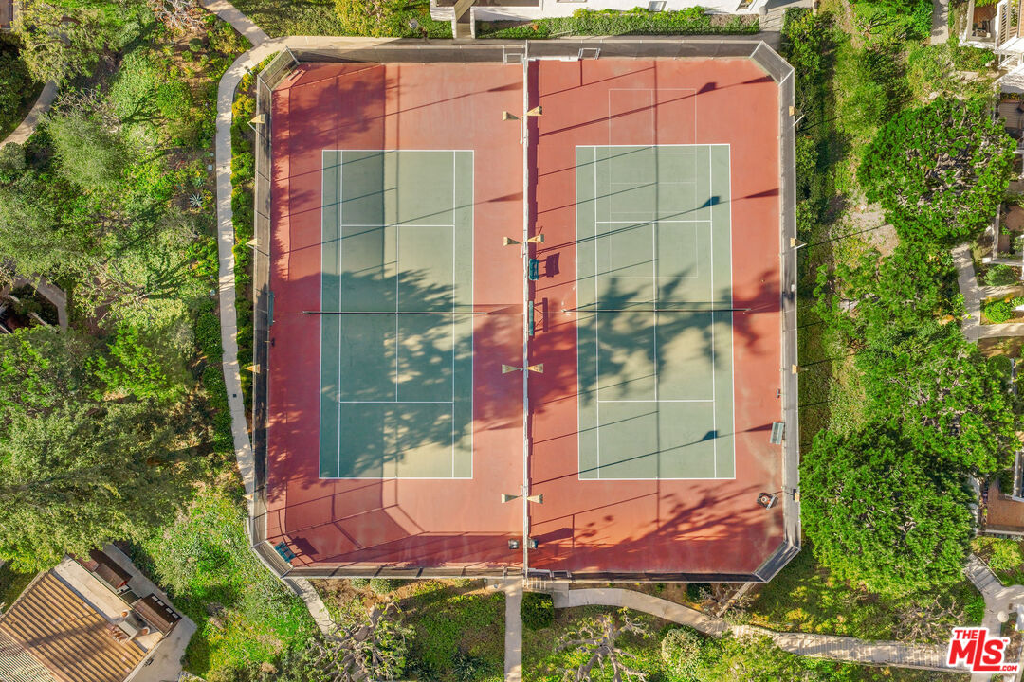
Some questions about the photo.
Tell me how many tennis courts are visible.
two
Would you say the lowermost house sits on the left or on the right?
left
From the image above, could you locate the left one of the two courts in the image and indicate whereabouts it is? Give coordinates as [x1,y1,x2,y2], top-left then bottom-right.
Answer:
[267,63,526,568]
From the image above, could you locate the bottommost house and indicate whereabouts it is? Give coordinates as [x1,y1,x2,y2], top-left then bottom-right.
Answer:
[0,541,198,682]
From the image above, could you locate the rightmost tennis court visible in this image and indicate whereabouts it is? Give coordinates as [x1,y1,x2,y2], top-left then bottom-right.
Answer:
[530,57,785,574]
